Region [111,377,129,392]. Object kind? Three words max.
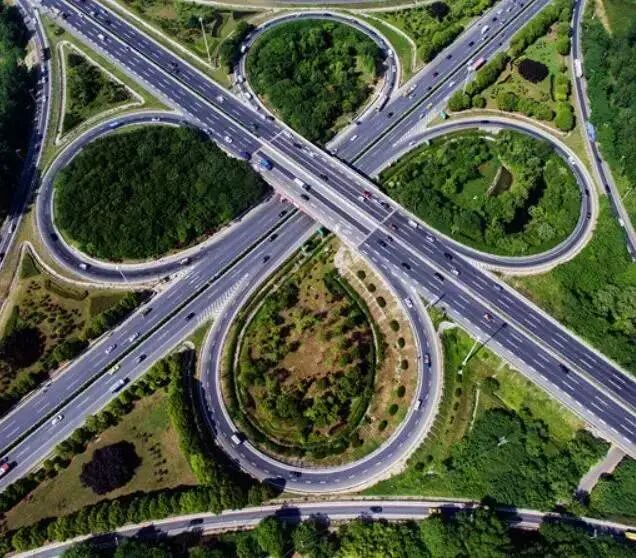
vehicle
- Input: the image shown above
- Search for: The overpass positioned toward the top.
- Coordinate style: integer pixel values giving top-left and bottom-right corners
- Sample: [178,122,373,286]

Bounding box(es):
[242,126,401,249]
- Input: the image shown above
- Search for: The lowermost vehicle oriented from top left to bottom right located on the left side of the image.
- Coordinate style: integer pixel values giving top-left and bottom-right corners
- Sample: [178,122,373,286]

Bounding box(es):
[228,432,243,449]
